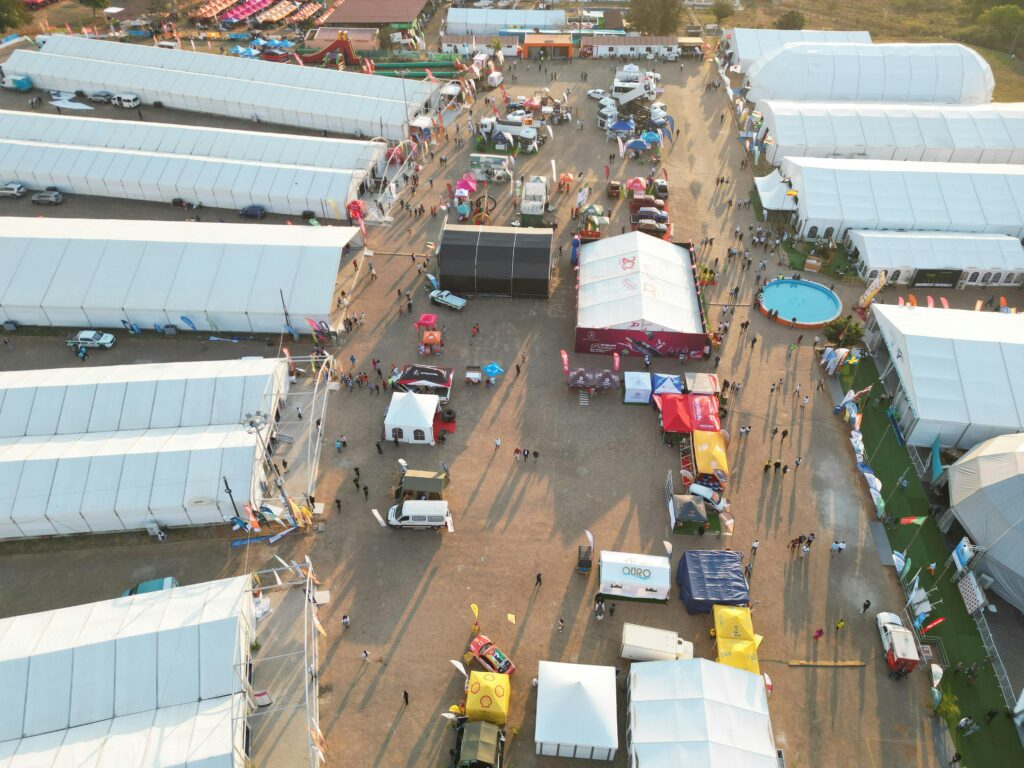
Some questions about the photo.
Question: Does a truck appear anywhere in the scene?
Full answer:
Yes, I can see a truck in this picture.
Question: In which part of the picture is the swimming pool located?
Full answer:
The swimming pool appears toward the right of the photo.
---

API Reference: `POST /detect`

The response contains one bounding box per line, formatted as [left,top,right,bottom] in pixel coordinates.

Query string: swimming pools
[754,278,844,332]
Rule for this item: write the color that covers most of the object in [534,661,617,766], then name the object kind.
white tent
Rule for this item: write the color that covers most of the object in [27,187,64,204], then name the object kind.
gray car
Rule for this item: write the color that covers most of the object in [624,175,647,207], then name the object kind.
red gazebo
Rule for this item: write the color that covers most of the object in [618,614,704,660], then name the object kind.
white truck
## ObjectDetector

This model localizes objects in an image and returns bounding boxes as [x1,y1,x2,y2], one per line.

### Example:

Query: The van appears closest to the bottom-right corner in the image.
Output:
[878,610,933,690]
